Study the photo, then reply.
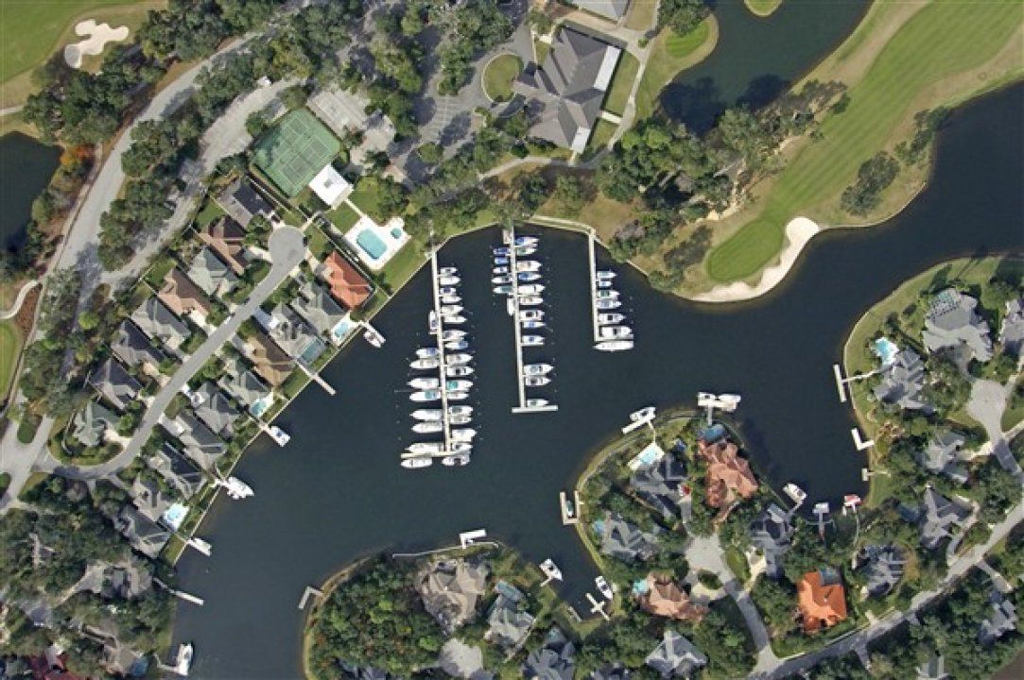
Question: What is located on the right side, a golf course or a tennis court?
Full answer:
What appears on the right side is a golf course.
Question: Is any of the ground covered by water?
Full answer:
Yes, some water is visible.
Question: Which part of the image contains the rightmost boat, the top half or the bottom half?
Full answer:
It is in the bottom half that the rightmost boat appears.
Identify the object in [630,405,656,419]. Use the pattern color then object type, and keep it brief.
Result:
white boat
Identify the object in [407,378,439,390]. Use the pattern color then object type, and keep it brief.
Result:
white boat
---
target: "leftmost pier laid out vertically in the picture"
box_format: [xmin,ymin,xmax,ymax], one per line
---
[401,248,473,465]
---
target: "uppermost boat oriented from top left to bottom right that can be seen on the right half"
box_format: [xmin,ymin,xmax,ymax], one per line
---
[783,481,806,501]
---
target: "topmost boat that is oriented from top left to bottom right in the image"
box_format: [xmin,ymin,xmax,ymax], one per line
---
[365,332,382,348]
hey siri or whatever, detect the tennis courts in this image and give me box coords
[253,107,341,198]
